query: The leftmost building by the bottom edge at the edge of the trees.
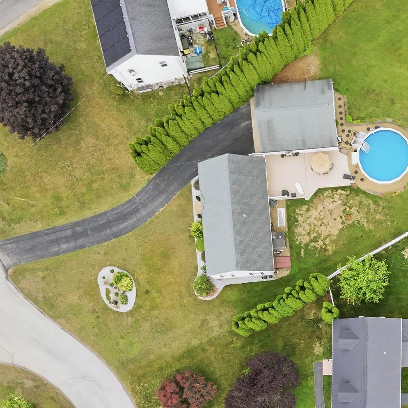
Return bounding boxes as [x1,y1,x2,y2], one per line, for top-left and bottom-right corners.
[331,316,402,408]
